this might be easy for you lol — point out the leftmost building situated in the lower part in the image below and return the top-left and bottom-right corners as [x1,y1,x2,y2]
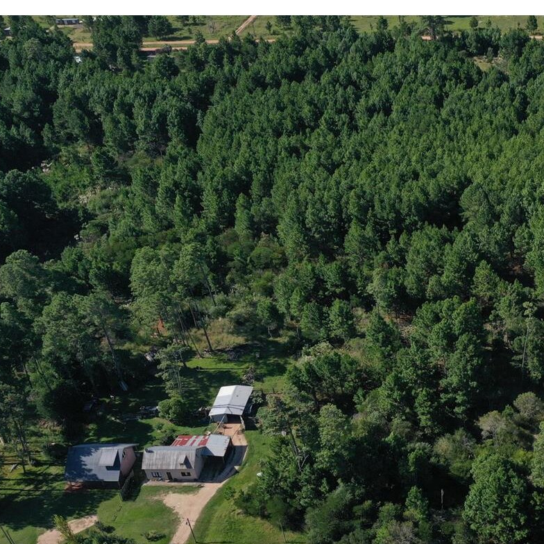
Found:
[64,442,143,490]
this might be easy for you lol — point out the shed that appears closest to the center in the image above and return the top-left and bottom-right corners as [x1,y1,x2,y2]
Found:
[207,385,256,425]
